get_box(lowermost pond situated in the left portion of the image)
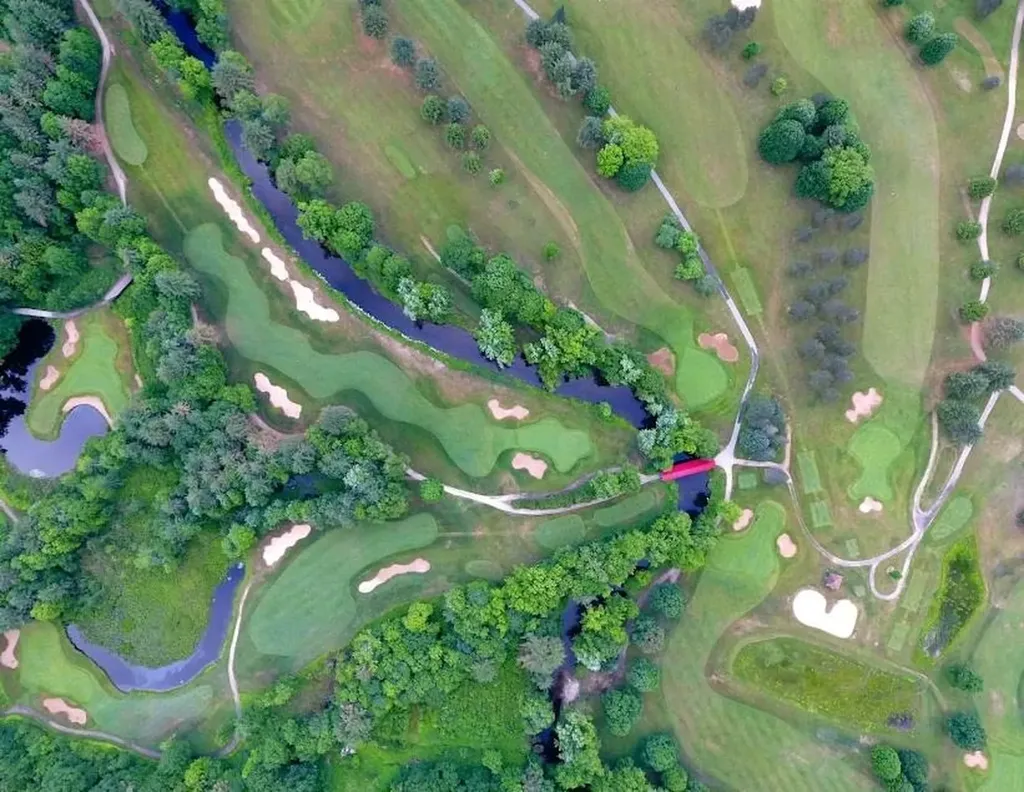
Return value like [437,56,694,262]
[68,559,248,691]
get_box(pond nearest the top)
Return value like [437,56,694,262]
[0,317,104,477]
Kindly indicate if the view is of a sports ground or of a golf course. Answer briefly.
golf course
